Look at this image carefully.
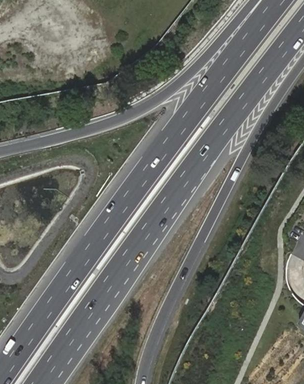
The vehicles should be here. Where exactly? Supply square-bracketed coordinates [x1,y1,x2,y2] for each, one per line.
[180,268,188,280]
[292,38,304,52]
[290,232,300,240]
[4,377,12,384]
[200,76,208,86]
[106,202,116,212]
[87,300,96,310]
[4,338,16,354]
[230,167,242,183]
[150,158,160,168]
[158,218,168,228]
[141,376,146,384]
[200,145,210,156]
[14,345,24,356]
[292,226,304,235]
[70,279,80,290]
[136,252,144,263]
